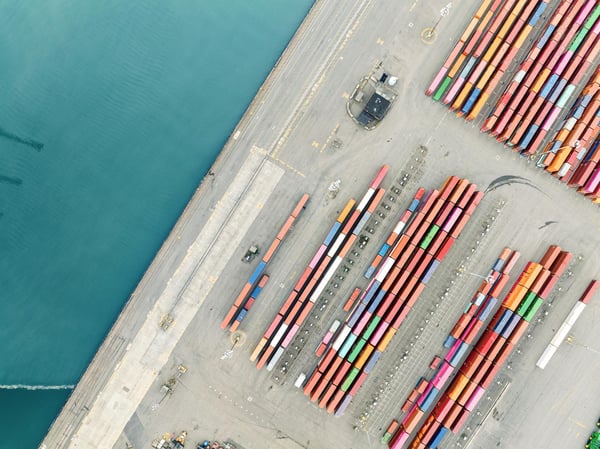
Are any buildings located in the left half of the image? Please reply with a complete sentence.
No, there's no building to be seen in the left half of the image.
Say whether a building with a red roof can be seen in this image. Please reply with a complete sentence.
No, there is no building with a red roof in the image.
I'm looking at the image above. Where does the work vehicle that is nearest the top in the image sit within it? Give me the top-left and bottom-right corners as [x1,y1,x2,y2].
[241,246,260,265]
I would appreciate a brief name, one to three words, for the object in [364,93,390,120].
building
